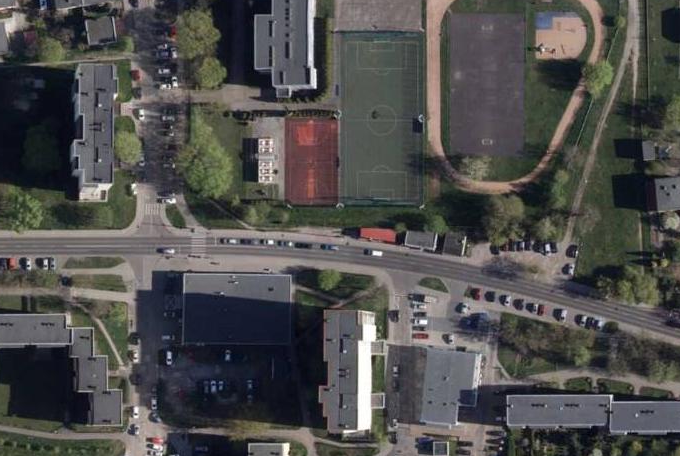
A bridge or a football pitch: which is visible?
football pitch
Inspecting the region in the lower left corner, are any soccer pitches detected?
No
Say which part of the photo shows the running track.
top right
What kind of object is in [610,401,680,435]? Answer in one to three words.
building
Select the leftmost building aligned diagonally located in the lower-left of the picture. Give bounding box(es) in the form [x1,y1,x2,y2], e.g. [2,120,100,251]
[0,314,128,425]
